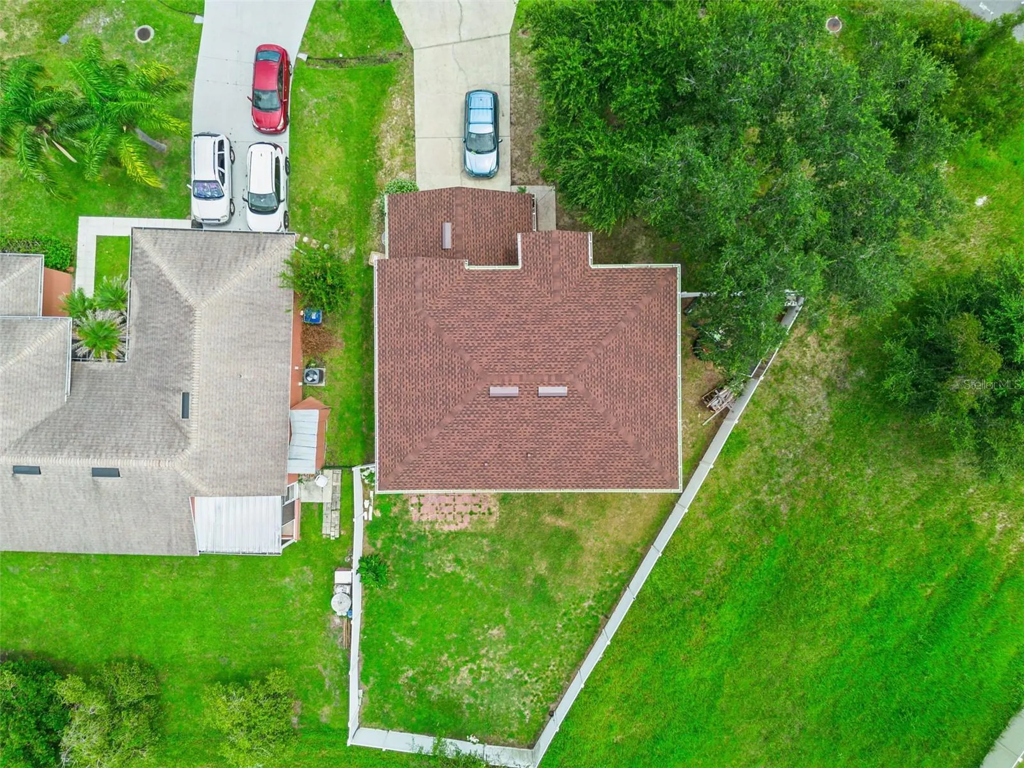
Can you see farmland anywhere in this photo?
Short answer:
No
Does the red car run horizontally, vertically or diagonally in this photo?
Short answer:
vertically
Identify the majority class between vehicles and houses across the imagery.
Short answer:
vehicles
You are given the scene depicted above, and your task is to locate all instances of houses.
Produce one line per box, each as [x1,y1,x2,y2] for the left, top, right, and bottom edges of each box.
[372,185,684,493]
[0,225,332,557]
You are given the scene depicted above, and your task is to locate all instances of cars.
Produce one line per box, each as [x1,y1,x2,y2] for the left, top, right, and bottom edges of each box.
[239,141,289,230]
[245,43,293,138]
[459,88,504,182]
[185,131,234,226]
